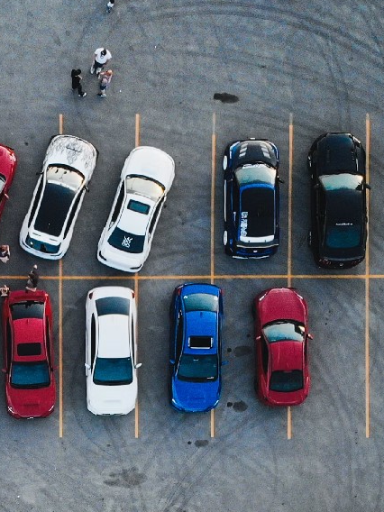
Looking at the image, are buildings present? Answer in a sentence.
No, I find no building anywhere in the image.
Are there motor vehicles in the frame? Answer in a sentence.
Yes, a motor vehicle is visible in the scene.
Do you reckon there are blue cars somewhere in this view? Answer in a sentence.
Yes, there's a blue car here.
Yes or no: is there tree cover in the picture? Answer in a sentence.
No, the picture contains no tree cover.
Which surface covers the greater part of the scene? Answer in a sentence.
The largest share of the image is taken up by paved ground.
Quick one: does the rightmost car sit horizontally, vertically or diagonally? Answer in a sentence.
The rightmost car has been laid out vertically relative to the frame.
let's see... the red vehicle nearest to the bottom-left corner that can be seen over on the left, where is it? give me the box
[0,289,61,421]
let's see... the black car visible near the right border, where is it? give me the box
[305,132,374,271]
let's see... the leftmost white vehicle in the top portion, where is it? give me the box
[21,135,97,262]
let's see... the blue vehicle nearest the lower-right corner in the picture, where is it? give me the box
[168,282,231,414]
